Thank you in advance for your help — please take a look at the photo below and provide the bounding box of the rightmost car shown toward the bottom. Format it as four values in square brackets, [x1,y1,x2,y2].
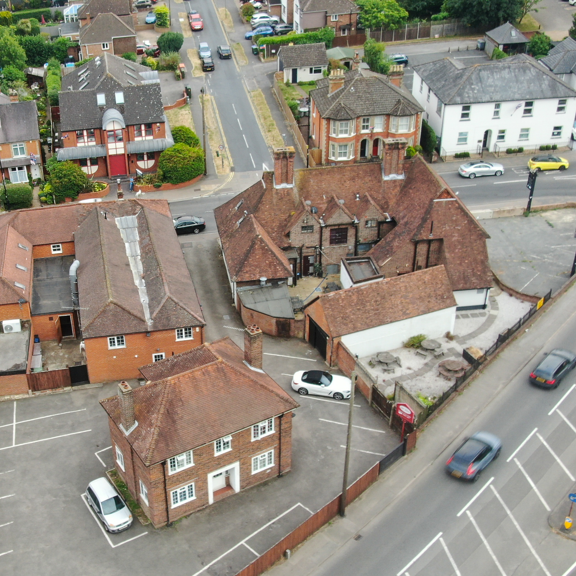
[534,351,576,388]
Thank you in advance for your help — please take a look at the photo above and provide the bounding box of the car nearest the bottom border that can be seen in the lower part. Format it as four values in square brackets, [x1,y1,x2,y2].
[84,474,132,533]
